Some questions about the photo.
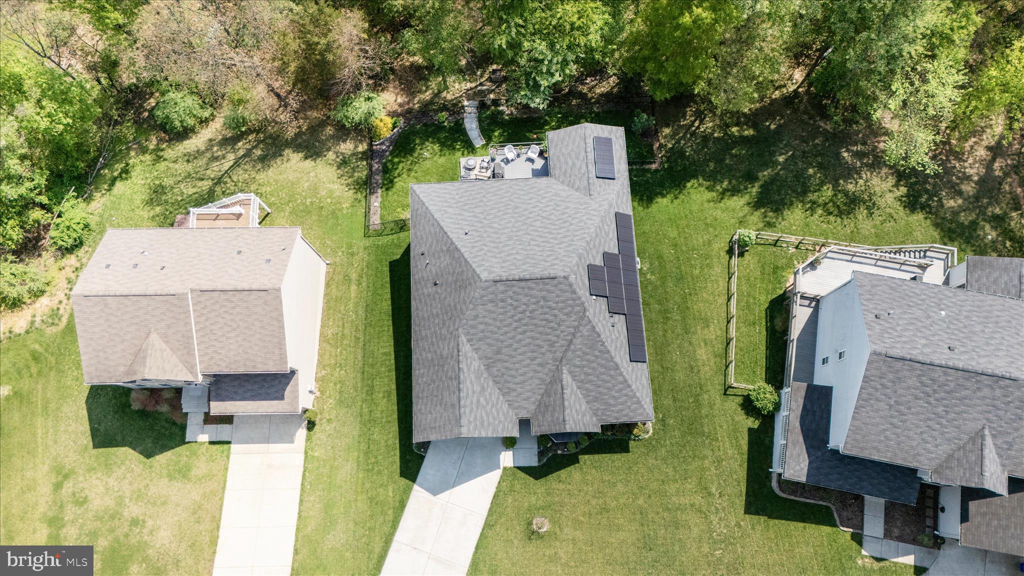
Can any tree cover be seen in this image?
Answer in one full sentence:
Yes, tree cover can be seen from above here.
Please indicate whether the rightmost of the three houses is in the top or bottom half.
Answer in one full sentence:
Seen from above, the rightmost of the three houses lies in the bottom half of the view.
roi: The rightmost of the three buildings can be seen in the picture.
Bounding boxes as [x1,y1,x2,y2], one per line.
[768,256,1024,557]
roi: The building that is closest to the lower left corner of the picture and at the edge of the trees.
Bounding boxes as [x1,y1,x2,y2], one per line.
[72,226,333,415]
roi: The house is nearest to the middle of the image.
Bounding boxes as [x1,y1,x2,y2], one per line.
[409,123,656,442]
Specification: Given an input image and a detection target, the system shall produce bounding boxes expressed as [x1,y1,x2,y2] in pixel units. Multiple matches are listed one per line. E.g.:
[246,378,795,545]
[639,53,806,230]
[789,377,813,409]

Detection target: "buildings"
[768,256,1024,557]
[409,123,656,442]
[72,226,333,415]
